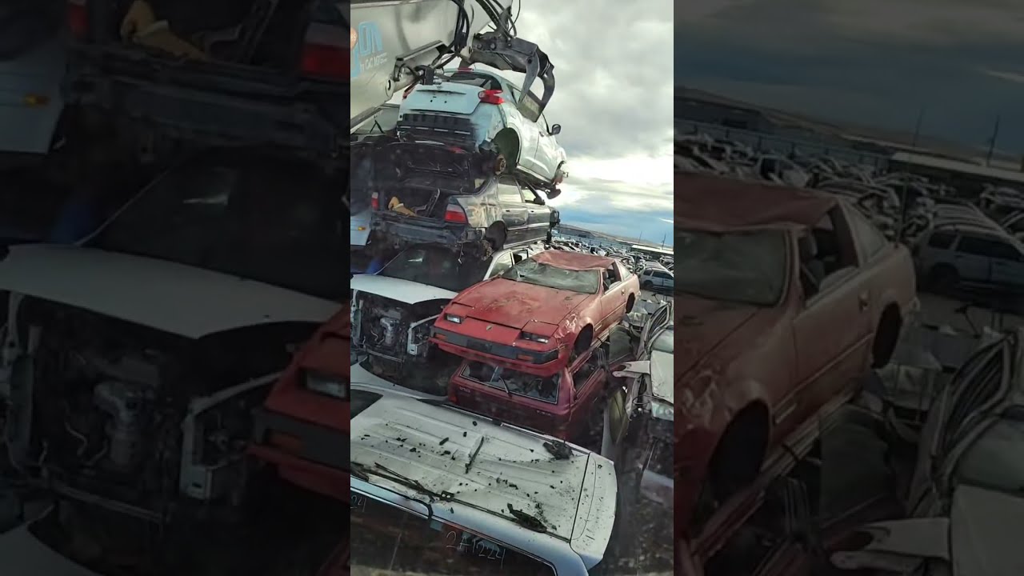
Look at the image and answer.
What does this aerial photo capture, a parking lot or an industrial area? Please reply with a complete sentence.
It's a parking lot.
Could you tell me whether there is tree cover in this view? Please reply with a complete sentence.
No, no tree cover is visible.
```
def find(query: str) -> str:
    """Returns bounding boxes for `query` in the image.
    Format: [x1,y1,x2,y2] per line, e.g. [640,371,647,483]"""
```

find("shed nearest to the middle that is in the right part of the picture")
[619,241,674,267]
